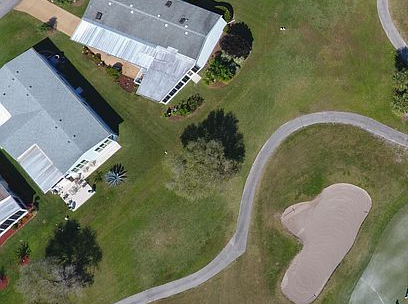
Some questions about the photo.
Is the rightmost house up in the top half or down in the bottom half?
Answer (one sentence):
You can find the rightmost house in the top half.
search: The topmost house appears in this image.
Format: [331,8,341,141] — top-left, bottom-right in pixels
[70,0,229,104]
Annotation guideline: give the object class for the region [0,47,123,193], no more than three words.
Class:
house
